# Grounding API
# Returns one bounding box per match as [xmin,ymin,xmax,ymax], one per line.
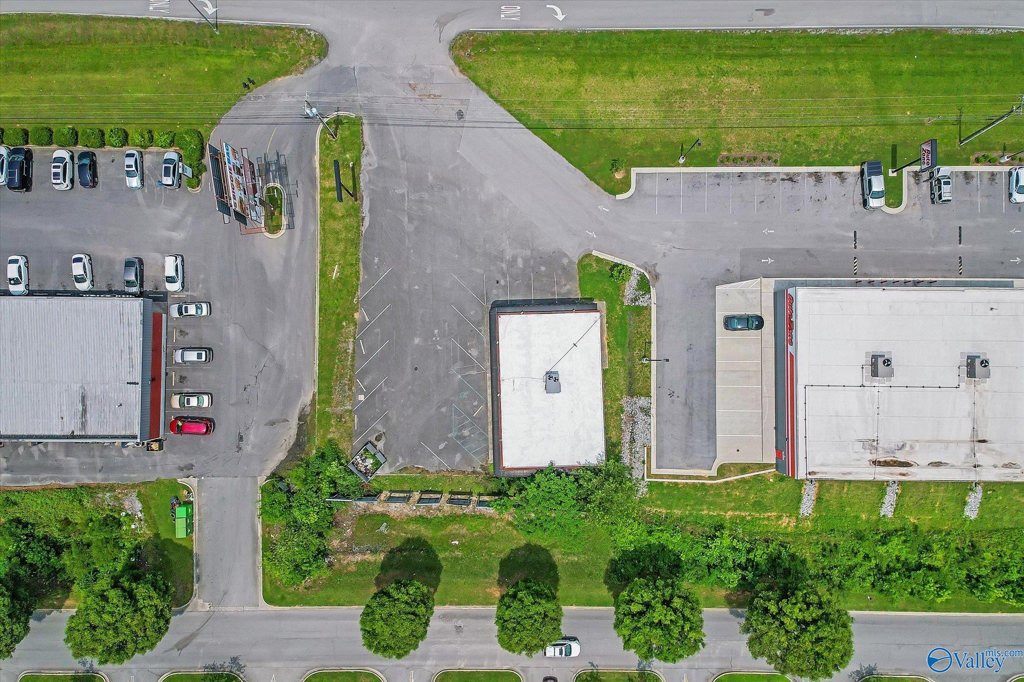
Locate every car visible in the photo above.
[170,416,214,436]
[76,151,98,189]
[50,150,74,191]
[163,254,185,292]
[0,146,10,185]
[1008,166,1024,204]
[72,253,95,291]
[5,147,32,192]
[122,257,144,295]
[174,346,214,364]
[123,150,145,190]
[171,391,212,409]
[170,300,211,318]
[160,151,182,189]
[545,637,581,659]
[7,255,30,295]
[926,168,954,204]
[723,313,764,332]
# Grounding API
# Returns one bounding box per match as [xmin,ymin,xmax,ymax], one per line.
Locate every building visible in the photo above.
[0,295,167,442]
[490,303,606,476]
[775,286,1024,484]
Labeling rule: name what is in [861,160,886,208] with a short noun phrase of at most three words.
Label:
truck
